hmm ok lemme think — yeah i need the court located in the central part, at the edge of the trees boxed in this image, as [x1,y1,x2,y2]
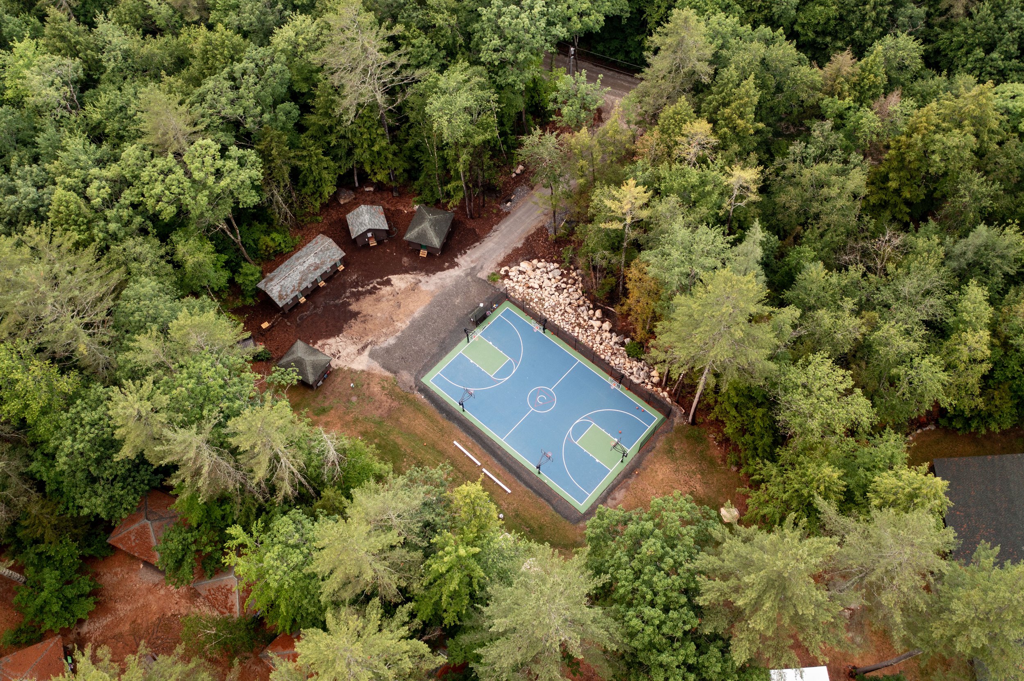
[422,300,666,514]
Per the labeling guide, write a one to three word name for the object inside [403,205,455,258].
building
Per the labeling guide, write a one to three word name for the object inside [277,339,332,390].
building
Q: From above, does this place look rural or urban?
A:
rural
